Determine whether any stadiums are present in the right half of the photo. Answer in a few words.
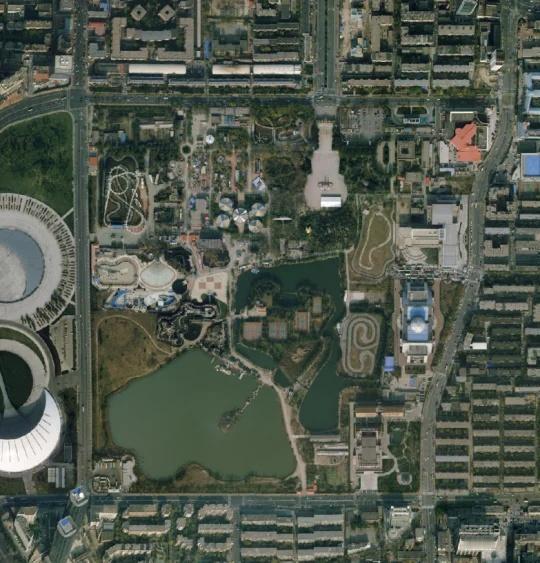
No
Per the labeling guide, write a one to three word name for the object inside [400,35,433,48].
building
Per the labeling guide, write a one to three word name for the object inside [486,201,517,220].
building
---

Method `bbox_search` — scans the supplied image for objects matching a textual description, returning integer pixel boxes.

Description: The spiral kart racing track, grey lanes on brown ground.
[339,313,378,376]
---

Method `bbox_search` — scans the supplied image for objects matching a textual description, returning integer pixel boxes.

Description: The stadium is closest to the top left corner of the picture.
[0,193,78,332]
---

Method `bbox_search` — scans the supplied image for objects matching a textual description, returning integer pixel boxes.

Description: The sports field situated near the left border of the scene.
[0,350,34,418]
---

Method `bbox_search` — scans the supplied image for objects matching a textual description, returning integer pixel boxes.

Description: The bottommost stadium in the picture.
[0,320,62,473]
